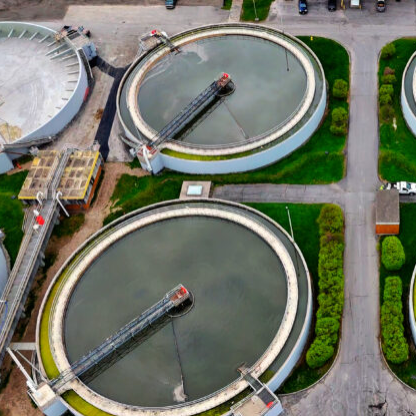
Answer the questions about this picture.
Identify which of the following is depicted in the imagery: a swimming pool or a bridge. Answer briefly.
bridge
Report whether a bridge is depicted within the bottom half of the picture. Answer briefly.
Yes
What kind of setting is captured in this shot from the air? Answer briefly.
industrial area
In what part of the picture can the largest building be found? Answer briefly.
left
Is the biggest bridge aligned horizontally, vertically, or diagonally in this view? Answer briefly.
diagonally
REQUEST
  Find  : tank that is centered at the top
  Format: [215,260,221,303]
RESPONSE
[116,24,328,177]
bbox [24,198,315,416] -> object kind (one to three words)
storage tank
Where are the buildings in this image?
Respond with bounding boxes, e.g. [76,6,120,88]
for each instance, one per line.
[17,136,108,213]
[375,191,400,232]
